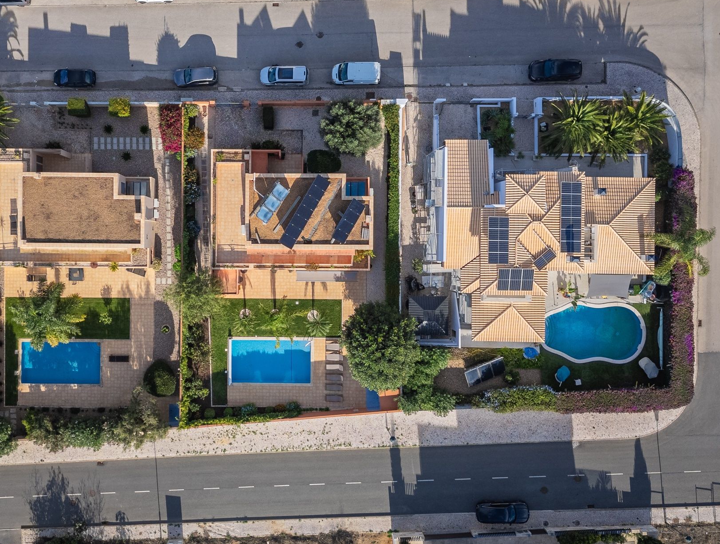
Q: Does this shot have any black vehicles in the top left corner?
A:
Yes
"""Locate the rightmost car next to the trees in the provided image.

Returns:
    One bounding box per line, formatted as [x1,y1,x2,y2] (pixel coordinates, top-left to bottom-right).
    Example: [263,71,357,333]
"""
[530,59,580,82]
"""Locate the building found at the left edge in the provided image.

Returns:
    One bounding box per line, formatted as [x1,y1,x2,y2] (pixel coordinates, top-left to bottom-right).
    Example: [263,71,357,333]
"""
[0,148,156,268]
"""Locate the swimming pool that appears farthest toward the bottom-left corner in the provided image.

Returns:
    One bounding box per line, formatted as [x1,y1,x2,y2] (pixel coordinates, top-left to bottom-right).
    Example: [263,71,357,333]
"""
[18,339,104,388]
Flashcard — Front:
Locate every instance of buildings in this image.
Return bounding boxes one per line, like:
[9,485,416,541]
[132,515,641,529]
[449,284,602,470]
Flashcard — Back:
[210,149,374,294]
[437,140,657,348]
[0,148,156,268]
